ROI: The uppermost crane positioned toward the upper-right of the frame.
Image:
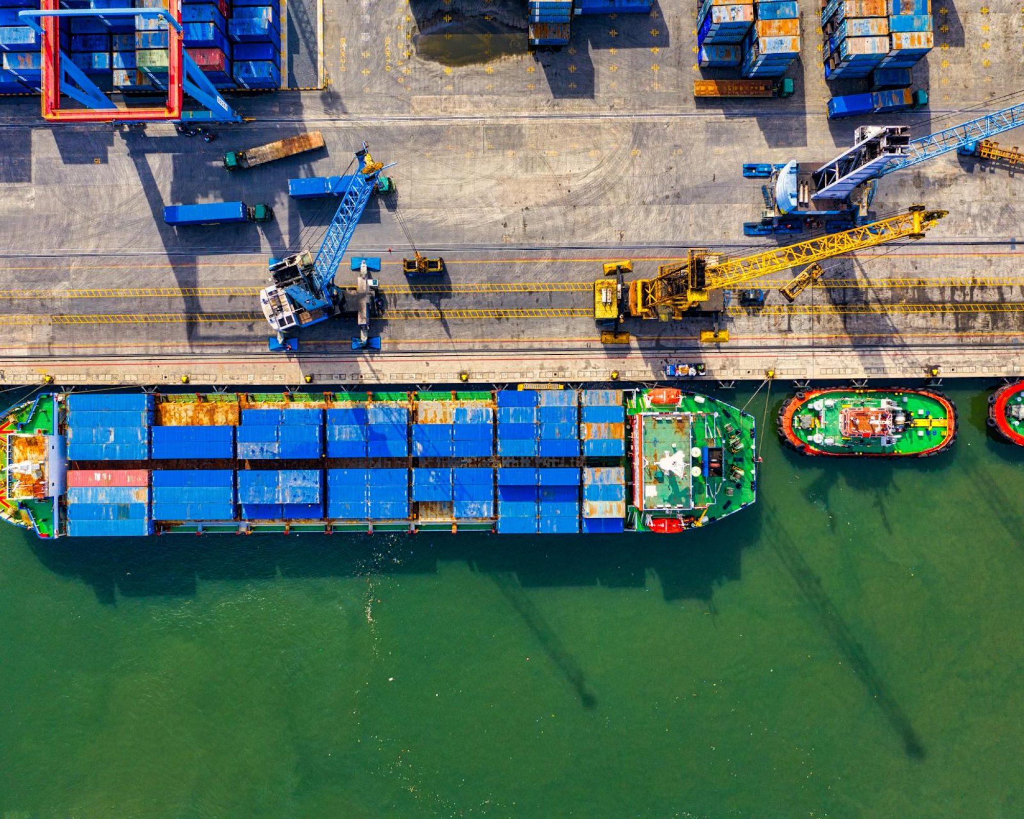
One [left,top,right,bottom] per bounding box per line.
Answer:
[742,94,1024,236]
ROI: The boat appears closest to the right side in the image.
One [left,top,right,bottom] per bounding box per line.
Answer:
[985,383,1024,442]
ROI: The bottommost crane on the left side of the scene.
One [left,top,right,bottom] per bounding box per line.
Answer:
[261,140,423,351]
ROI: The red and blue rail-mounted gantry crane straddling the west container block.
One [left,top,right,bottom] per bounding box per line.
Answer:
[17,0,258,127]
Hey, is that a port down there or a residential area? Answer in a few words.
port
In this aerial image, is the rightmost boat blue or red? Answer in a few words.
red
